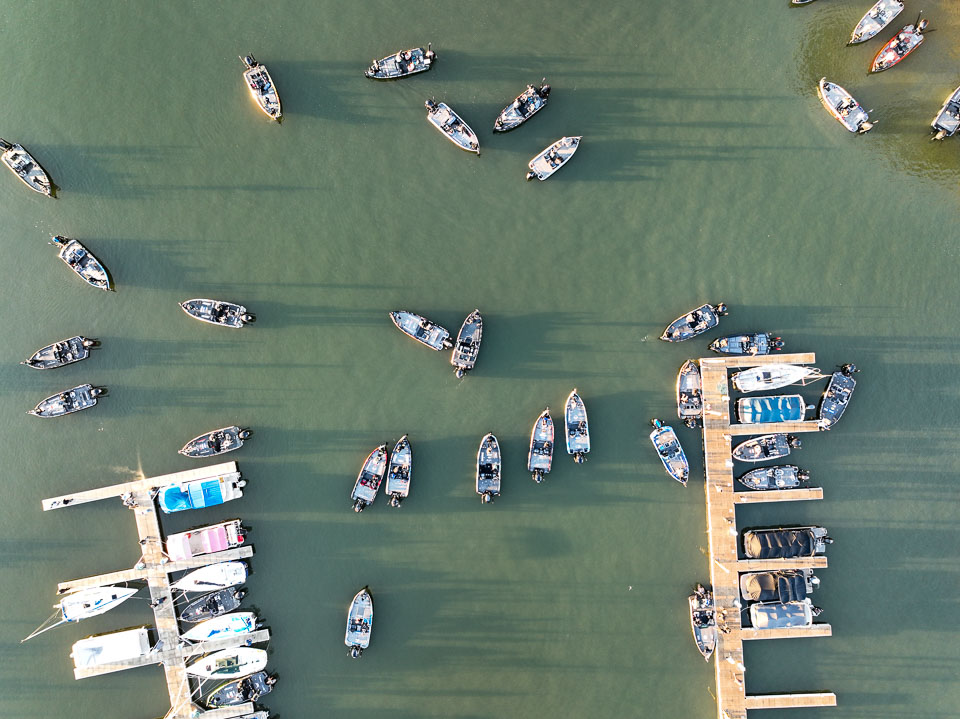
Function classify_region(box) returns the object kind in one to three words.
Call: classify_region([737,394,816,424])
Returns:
boat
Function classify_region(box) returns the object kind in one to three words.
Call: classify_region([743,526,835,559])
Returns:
boat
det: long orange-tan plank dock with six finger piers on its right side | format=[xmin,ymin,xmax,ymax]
[698,351,837,719]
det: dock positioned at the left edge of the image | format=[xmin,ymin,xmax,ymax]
[42,461,271,719]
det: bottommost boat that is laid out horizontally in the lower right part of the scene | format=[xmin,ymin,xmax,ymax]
[748,601,822,631]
